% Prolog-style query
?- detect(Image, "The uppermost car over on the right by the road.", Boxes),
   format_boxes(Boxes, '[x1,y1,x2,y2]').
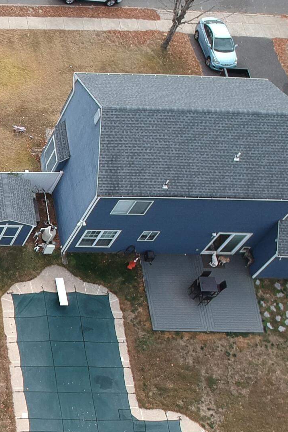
[196,7,252,67]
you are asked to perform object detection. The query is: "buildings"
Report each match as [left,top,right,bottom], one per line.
[0,171,36,248]
[38,69,288,284]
